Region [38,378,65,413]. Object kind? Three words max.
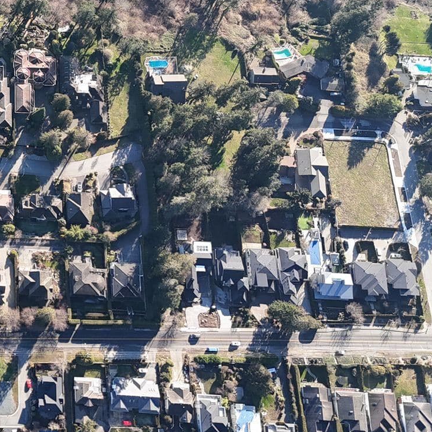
house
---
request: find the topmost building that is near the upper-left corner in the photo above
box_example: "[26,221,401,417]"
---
[13,50,56,88]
